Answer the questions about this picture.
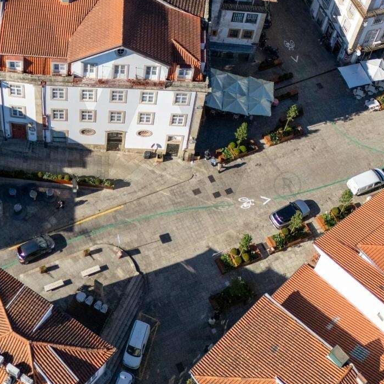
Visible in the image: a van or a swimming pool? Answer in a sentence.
There is a van in the scene.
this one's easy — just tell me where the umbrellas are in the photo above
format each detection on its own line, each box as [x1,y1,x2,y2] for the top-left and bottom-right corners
[207,70,231,91]
[224,91,249,120]
[269,97,282,116]
[337,65,372,92]
[151,142,165,161]
[228,75,252,95]
[246,97,271,125]
[249,79,273,101]
[359,60,384,87]
[203,87,228,115]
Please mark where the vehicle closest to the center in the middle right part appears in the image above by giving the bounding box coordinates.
[272,200,313,229]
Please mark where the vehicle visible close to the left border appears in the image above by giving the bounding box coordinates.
[12,233,57,265]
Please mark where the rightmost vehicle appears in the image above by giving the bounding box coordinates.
[346,168,384,196]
